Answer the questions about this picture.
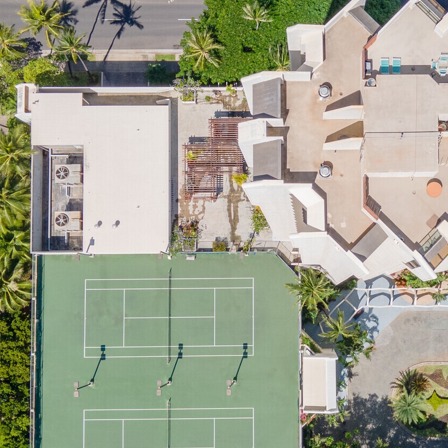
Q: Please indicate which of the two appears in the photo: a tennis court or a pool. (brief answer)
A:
tennis court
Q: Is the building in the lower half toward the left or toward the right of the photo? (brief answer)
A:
right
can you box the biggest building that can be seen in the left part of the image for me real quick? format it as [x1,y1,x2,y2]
[15,83,176,256]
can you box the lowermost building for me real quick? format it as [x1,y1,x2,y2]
[304,336,338,414]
